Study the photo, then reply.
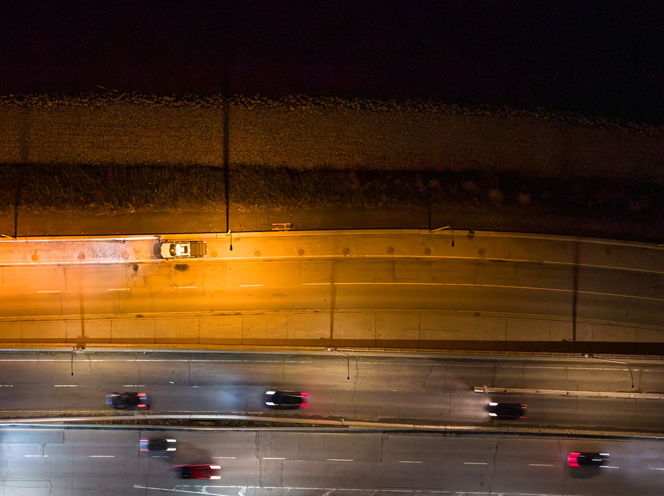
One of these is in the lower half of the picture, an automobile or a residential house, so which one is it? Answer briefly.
automobile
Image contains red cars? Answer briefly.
Yes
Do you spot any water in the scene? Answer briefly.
Yes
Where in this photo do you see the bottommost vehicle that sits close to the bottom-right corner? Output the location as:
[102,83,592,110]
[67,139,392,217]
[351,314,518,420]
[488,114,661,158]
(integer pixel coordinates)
[568,452,606,468]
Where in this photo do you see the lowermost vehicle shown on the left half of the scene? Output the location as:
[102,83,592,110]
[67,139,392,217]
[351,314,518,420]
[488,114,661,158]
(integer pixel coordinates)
[180,464,219,482]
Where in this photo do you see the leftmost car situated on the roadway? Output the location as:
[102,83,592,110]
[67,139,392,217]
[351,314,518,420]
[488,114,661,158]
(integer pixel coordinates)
[108,392,145,409]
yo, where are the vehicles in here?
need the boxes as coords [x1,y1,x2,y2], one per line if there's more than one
[108,392,145,409]
[267,391,307,409]
[489,403,526,419]
[161,241,207,260]
[180,464,219,482]
[141,437,175,454]
[568,452,606,468]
